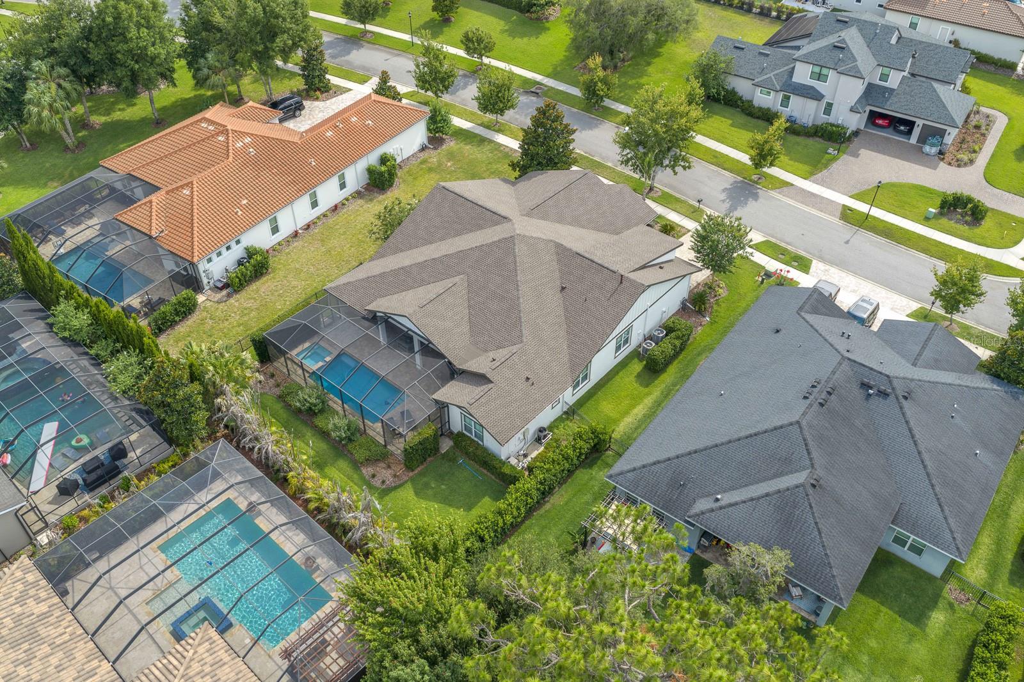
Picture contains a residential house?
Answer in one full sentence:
Yes, the picture does show a residential house.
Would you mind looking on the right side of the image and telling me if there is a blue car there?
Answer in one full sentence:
No, there is no blue car on the right side of the image.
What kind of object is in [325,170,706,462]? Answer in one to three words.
house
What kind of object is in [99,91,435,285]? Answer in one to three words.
house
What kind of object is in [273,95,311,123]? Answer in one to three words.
car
